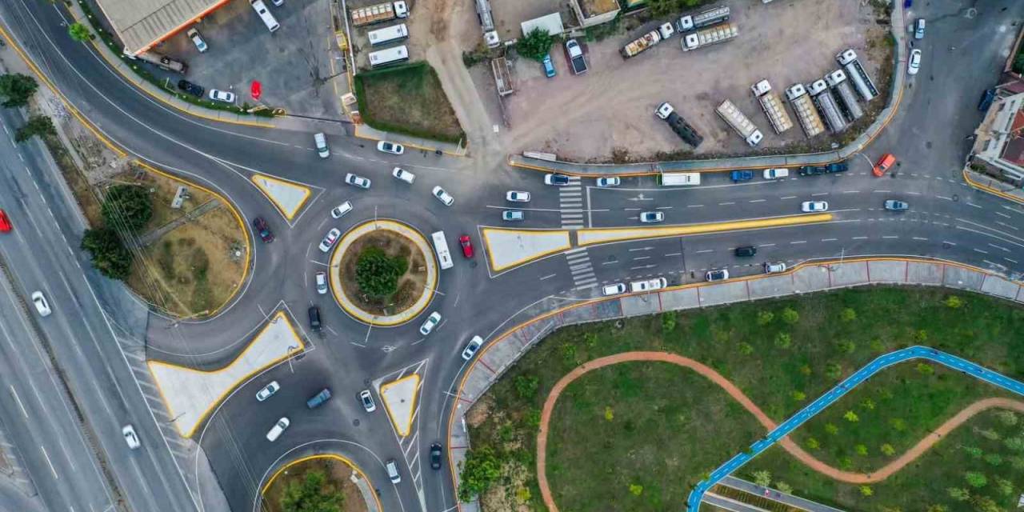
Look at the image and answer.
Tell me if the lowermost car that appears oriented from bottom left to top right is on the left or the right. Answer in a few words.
left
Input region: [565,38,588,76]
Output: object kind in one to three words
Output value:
truck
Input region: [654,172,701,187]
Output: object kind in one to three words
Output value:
vehicle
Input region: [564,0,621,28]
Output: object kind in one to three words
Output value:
building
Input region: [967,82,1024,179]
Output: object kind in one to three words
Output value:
house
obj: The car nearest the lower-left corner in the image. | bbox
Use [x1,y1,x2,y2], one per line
[123,423,143,450]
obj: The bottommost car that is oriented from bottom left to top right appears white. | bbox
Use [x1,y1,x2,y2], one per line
[265,416,291,443]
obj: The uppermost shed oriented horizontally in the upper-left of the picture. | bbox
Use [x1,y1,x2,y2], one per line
[95,0,242,60]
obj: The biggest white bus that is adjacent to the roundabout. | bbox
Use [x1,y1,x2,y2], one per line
[430,230,454,270]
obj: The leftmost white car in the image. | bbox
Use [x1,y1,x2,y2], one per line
[33,291,54,318]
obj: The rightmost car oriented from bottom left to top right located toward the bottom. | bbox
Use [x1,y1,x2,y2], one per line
[461,335,484,360]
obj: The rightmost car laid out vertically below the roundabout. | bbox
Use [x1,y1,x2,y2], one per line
[429,442,442,469]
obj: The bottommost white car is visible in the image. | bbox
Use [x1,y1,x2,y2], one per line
[385,458,402,483]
